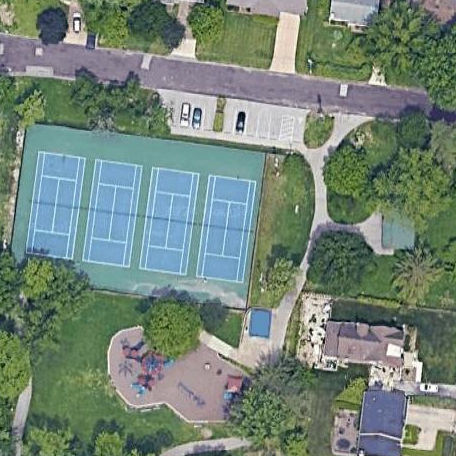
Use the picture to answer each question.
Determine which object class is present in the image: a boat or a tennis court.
tennis court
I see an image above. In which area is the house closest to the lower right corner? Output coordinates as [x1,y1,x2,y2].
[357,391,405,456]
